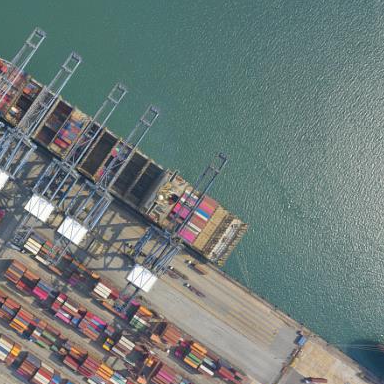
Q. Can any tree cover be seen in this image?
No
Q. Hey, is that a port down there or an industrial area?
port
